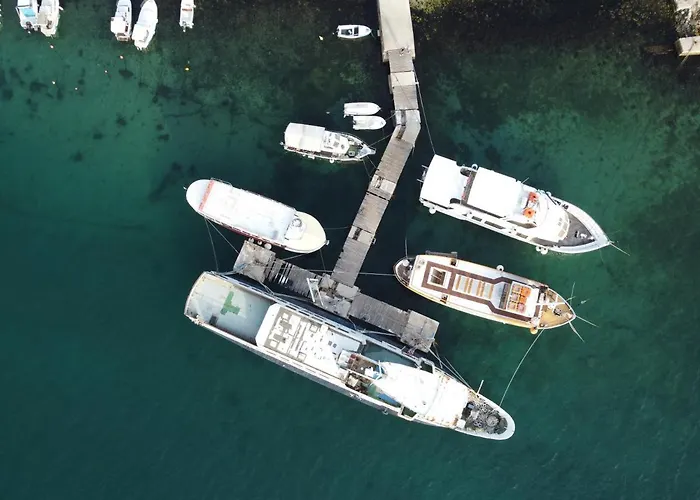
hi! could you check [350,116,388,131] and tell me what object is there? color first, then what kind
white boat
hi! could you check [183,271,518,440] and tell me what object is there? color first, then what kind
white ship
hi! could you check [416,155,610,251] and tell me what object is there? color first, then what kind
white boat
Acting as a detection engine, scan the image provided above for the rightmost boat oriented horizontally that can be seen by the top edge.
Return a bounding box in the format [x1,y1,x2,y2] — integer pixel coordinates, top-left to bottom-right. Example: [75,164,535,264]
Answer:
[336,25,373,39]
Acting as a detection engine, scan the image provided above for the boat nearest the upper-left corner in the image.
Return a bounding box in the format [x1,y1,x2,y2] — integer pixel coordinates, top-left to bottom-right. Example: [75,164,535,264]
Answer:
[16,0,40,33]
